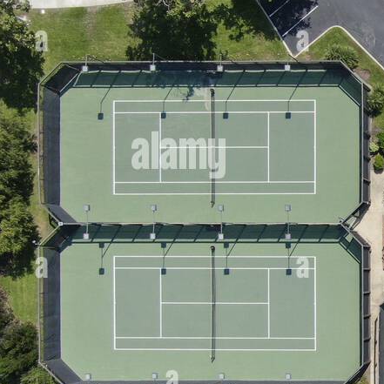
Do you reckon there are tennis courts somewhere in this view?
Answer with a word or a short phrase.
Yes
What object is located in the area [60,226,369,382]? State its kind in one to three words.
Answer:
tennis court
